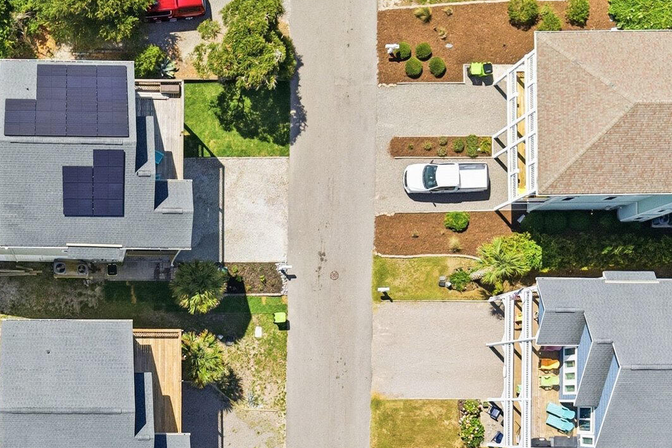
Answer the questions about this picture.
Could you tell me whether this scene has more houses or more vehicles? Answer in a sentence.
There are fewer vehicles than houses.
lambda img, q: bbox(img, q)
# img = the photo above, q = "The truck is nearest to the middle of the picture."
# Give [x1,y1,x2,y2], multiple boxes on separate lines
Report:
[399,158,490,197]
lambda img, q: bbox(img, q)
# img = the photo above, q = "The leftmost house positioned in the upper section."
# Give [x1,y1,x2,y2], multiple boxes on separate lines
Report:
[0,58,193,263]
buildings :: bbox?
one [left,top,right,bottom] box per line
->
[487,270,672,448]
[491,30,672,225]
[0,319,191,448]
[0,58,193,263]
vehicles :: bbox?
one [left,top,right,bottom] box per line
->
[399,158,490,197]
[124,0,209,24]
